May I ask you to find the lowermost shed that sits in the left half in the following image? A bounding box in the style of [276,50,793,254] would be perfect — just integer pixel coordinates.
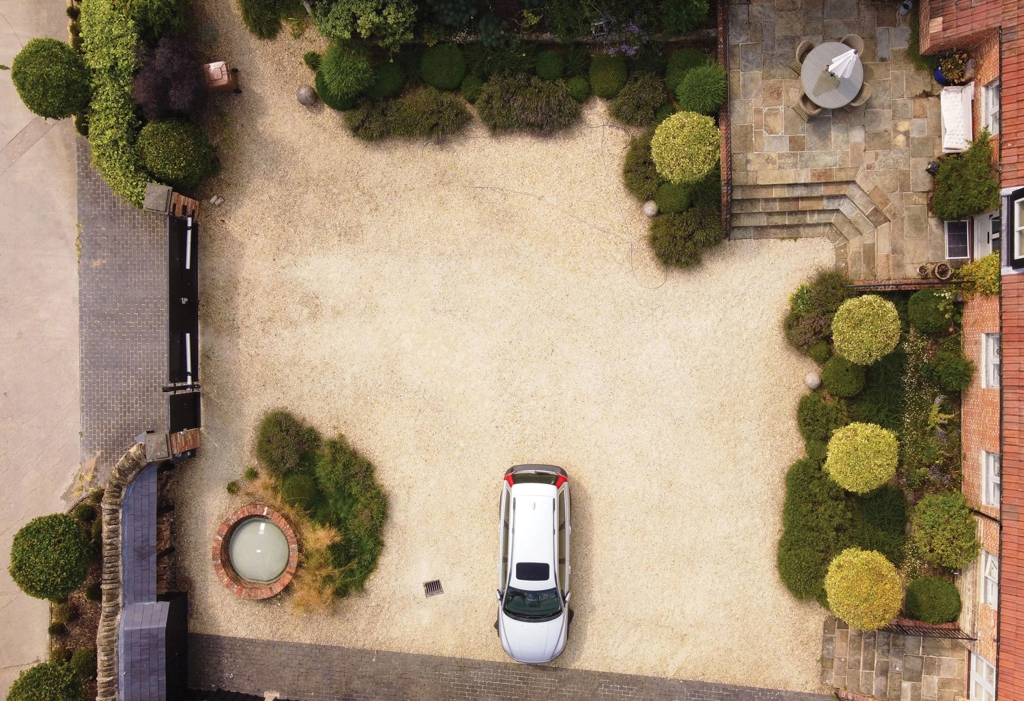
[119,596,188,701]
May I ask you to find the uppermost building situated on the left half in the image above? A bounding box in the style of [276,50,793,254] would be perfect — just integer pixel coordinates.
[122,461,176,605]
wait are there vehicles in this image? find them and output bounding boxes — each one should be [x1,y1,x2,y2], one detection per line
[494,462,576,665]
